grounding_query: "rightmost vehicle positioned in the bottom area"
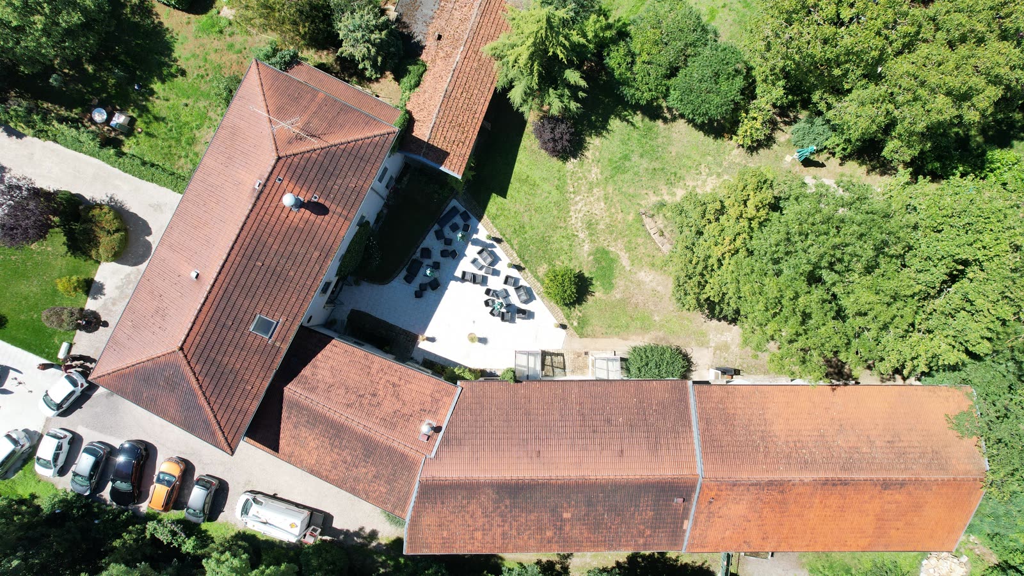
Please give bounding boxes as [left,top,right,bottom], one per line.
[233,487,318,551]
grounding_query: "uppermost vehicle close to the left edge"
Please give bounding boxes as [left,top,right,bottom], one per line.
[38,365,94,419]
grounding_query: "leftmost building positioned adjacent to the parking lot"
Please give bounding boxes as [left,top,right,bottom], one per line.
[89,58,402,457]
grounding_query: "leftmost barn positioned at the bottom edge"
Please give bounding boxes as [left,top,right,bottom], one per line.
[402,379,704,555]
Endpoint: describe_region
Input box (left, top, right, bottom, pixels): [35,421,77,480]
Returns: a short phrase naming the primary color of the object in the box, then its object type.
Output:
white car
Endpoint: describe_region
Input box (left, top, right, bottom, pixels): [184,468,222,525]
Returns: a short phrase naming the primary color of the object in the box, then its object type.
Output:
gray car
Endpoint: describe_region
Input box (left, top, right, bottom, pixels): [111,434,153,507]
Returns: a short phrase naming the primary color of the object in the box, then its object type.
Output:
black car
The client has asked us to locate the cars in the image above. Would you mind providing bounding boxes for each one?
[35,421,77,480]
[71,434,115,500]
[184,468,222,525]
[111,434,153,507]
[38,365,94,419]
[0,424,39,482]
[142,450,192,516]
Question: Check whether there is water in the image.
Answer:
No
